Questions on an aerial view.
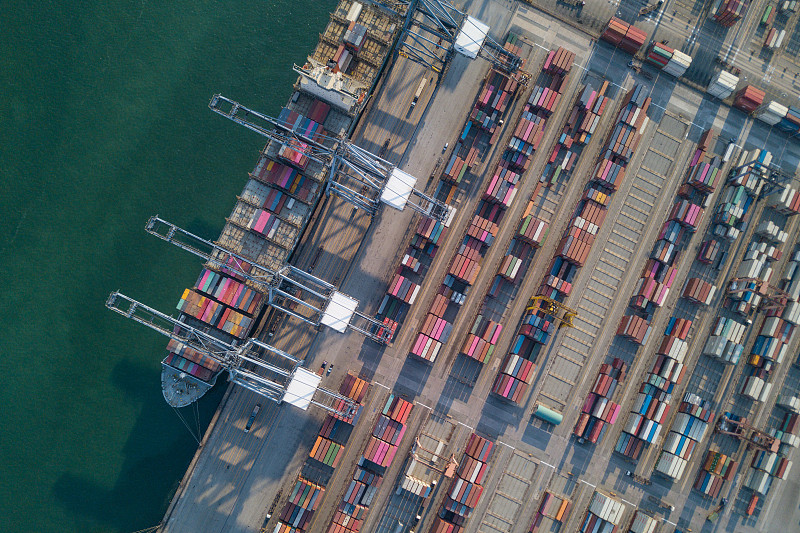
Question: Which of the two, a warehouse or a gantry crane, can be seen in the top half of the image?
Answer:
gantry crane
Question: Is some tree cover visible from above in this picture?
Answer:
No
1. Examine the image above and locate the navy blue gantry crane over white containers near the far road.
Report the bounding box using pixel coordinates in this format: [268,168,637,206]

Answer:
[717,159,788,207]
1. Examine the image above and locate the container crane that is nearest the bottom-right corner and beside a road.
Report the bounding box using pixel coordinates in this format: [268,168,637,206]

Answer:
[708,405,777,452]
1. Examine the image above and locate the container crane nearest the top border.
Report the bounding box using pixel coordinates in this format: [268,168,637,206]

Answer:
[391,0,537,81]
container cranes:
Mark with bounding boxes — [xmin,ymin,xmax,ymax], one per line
[140,210,396,347]
[714,270,784,308]
[101,287,359,423]
[517,291,580,331]
[391,0,537,81]
[708,405,777,452]
[717,159,788,207]
[203,86,453,224]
